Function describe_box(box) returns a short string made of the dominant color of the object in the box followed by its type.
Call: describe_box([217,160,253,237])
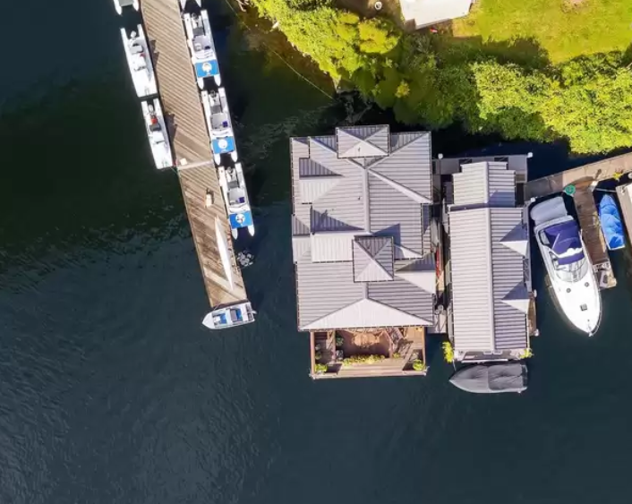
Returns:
white boat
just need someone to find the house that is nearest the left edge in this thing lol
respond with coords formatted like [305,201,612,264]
[291,124,437,380]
